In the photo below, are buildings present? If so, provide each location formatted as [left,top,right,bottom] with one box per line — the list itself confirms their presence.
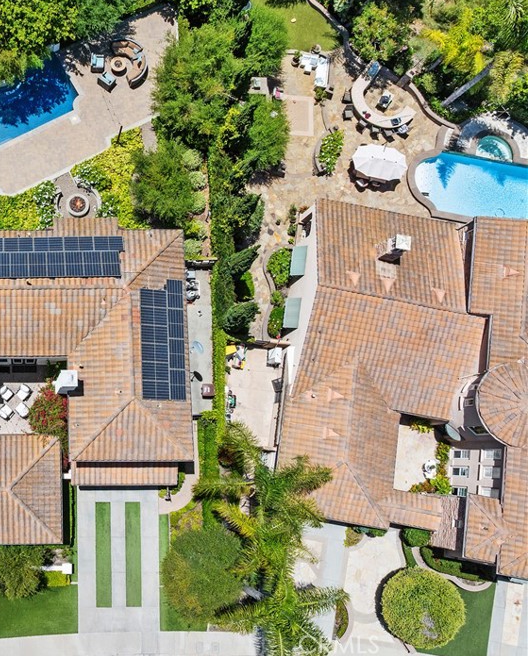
[0,218,197,546]
[265,198,528,579]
